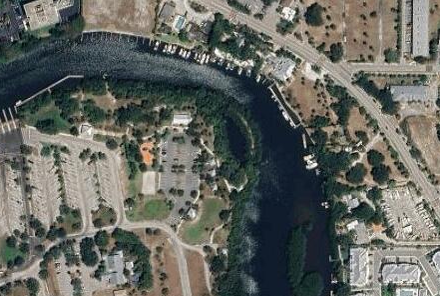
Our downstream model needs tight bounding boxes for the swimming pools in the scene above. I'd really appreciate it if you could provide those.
[396,287,419,296]
[174,14,185,32]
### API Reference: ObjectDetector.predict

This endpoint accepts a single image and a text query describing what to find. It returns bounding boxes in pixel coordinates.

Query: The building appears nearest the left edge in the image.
[22,0,73,30]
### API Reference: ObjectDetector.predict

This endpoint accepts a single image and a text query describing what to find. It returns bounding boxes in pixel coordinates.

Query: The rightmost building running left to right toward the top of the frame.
[391,85,428,101]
